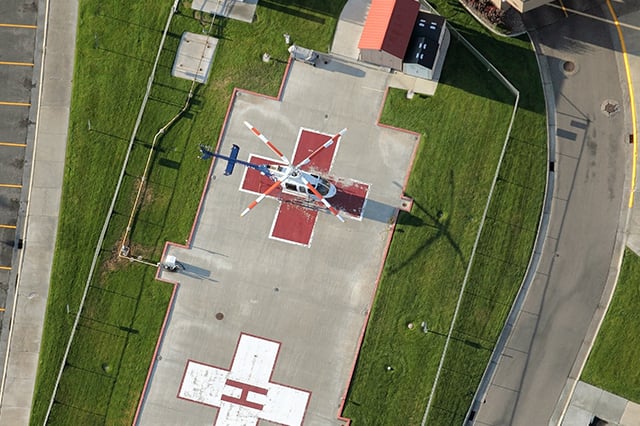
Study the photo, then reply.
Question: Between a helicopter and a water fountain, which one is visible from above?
helicopter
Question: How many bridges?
0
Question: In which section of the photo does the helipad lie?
center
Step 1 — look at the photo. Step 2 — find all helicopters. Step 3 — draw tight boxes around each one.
[198,123,346,224]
